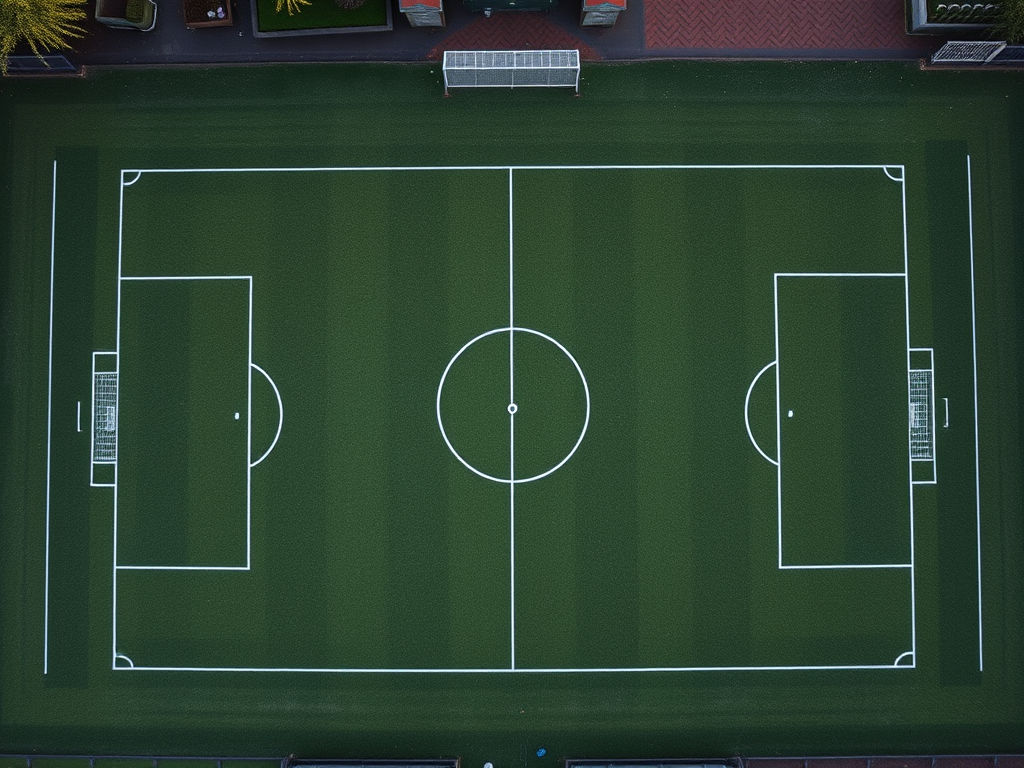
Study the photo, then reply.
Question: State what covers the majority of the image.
grass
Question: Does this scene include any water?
No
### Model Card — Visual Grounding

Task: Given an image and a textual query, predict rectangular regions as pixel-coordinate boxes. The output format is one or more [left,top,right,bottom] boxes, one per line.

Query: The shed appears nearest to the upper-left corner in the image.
[399,0,445,28]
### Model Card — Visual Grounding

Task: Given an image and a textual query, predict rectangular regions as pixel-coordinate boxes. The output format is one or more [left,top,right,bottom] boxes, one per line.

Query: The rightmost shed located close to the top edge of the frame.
[582,0,626,28]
